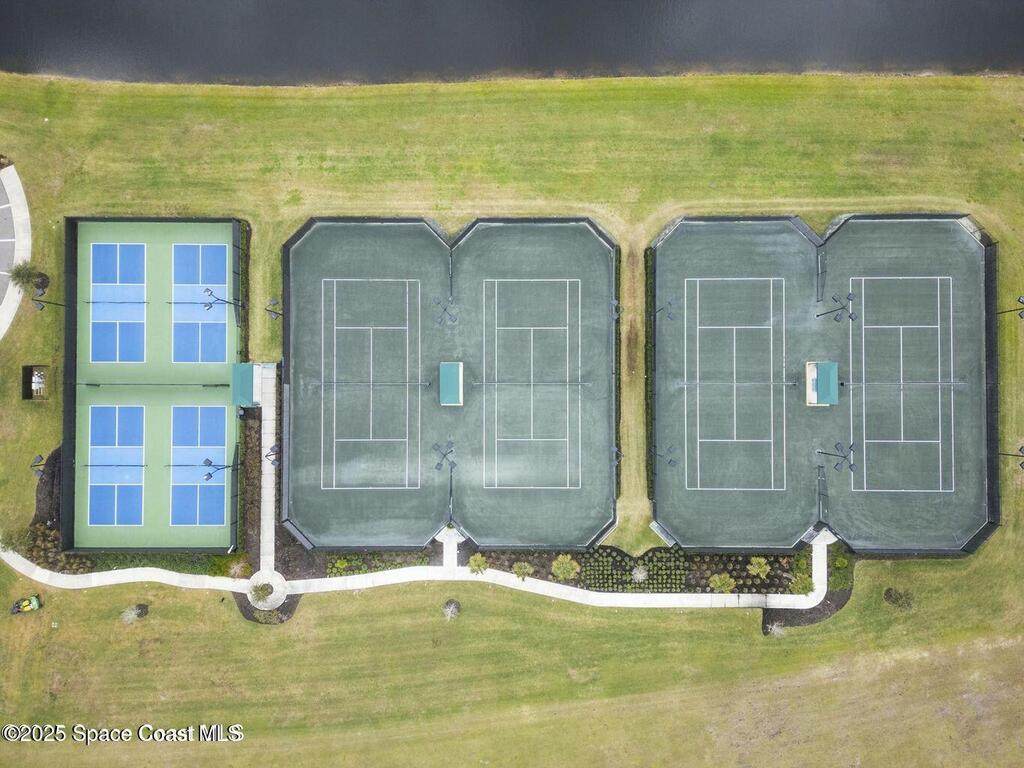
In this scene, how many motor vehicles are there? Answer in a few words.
1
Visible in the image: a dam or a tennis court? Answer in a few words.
tennis court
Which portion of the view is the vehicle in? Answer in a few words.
bottom left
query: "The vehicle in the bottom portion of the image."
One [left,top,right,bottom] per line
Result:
[9,594,40,615]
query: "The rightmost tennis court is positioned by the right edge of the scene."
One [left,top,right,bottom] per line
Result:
[818,219,989,549]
